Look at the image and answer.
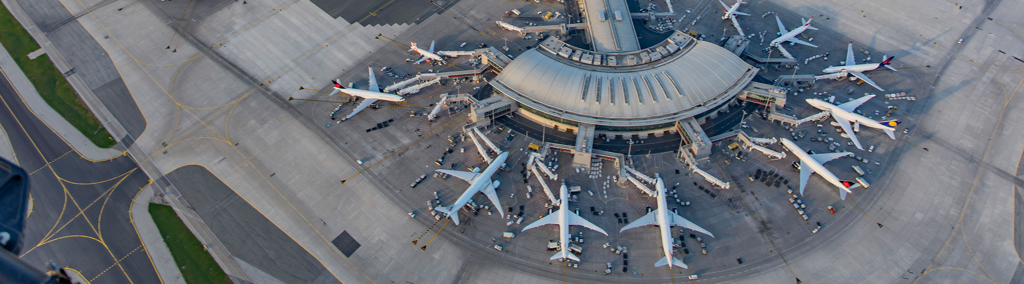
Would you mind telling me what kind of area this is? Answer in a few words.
airport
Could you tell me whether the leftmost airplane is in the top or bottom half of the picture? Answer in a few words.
top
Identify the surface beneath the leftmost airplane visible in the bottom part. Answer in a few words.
apron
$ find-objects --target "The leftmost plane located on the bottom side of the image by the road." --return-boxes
[436,152,509,223]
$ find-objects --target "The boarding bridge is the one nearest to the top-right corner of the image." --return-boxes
[812,72,851,84]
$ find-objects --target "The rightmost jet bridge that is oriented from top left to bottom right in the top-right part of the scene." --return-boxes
[773,41,796,59]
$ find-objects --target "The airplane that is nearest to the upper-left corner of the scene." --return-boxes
[330,63,405,118]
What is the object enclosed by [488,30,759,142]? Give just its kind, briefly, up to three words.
building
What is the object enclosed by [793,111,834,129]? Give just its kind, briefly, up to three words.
jet bridge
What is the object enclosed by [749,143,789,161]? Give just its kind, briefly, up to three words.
jet bridge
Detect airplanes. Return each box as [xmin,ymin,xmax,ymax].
[822,39,895,90]
[330,63,405,118]
[436,152,509,223]
[720,0,750,19]
[522,184,608,258]
[780,139,859,199]
[408,40,442,63]
[619,176,709,263]
[769,12,820,47]
[806,94,901,149]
